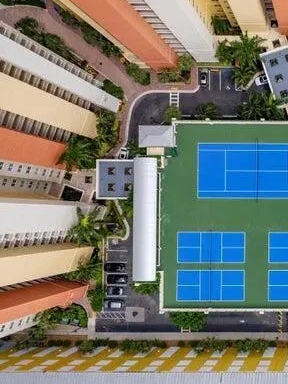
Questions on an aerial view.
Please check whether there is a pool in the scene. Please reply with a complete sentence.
No, no pool is visible in the scene.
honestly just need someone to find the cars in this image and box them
[250,74,270,86]
[103,297,127,309]
[106,273,129,285]
[198,67,209,91]
[104,261,127,273]
[107,286,123,296]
